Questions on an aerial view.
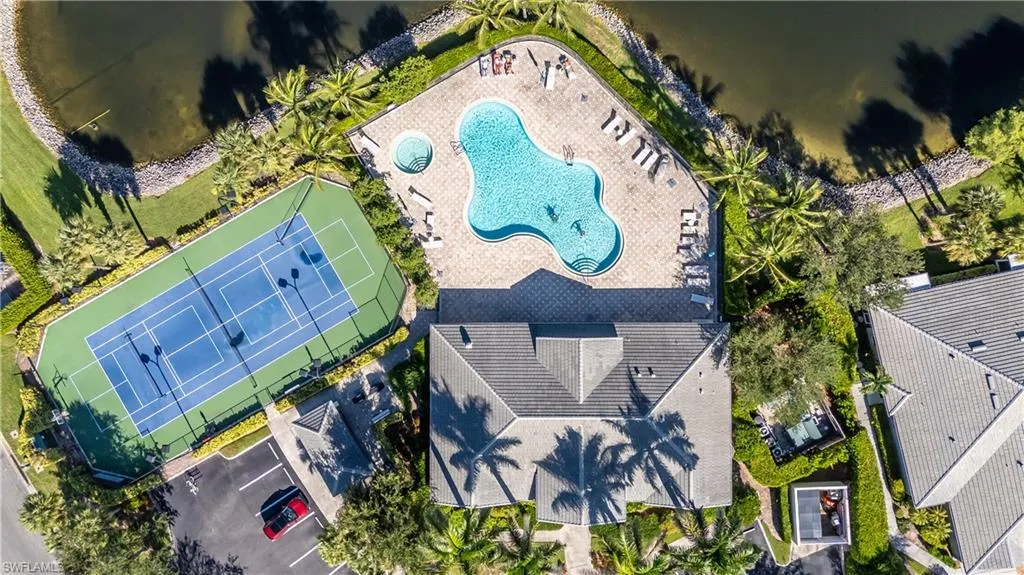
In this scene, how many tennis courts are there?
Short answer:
one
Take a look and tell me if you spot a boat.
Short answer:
No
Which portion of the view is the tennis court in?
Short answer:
left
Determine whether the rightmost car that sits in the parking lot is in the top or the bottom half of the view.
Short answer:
bottom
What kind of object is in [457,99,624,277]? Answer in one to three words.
swimming pool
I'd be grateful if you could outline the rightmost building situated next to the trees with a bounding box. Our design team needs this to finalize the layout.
[863,247,1024,575]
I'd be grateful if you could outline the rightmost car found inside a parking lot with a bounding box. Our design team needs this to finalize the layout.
[262,499,311,538]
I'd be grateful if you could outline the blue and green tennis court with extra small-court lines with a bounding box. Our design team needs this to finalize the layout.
[35,176,405,480]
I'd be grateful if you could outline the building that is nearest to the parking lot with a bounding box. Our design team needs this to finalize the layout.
[291,400,375,495]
